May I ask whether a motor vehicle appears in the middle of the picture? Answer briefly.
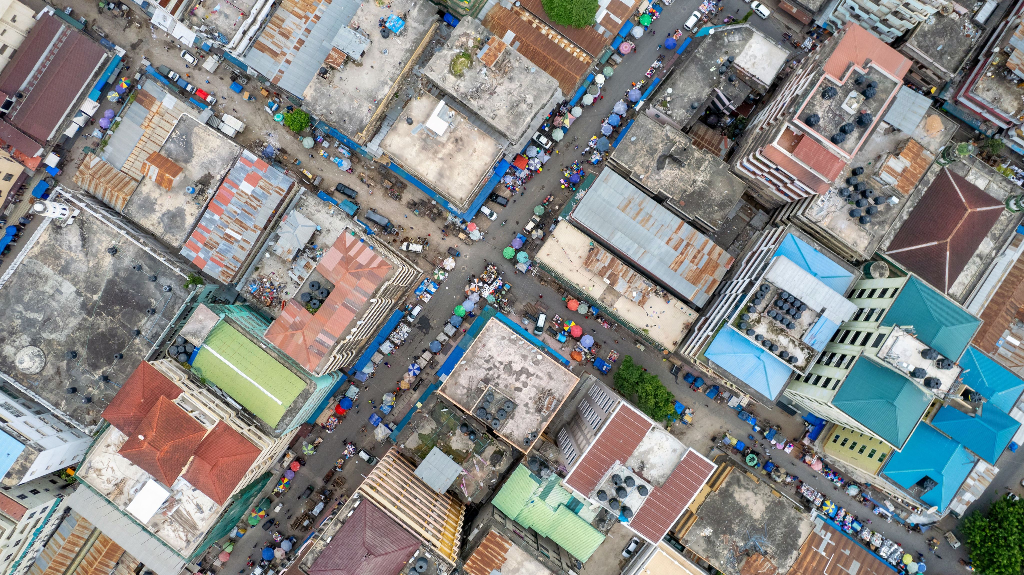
Yes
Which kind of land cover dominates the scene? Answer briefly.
buildings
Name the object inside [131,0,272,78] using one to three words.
building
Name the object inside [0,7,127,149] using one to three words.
building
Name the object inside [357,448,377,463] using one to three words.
car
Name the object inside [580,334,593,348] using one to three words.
umbrella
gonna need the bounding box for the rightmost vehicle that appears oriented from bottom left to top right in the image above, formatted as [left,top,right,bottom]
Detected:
[683,11,701,32]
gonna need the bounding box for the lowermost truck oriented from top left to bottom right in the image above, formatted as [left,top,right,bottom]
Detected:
[940,529,962,551]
